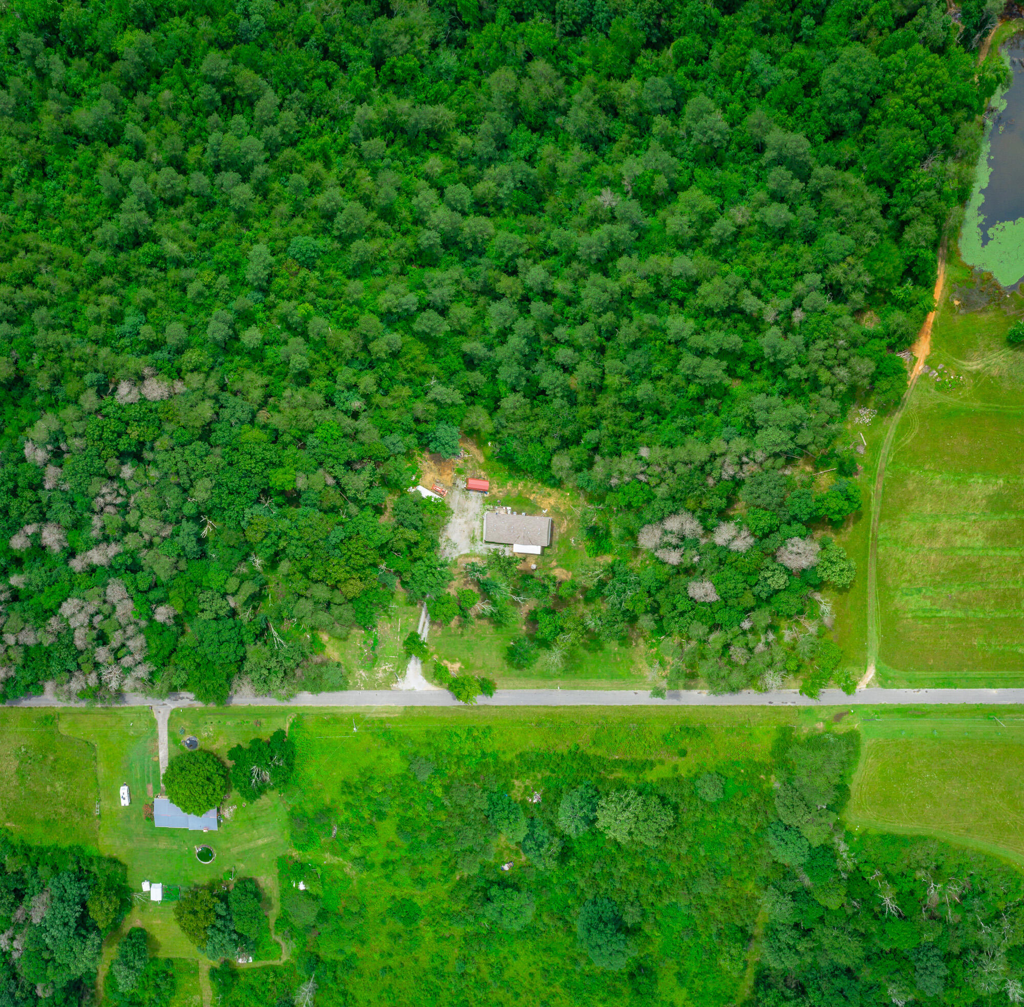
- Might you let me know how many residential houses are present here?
two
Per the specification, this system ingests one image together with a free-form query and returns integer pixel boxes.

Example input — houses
[154,792,220,832]
[483,513,553,553]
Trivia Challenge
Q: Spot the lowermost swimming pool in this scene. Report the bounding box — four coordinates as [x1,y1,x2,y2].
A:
[193,846,215,865]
